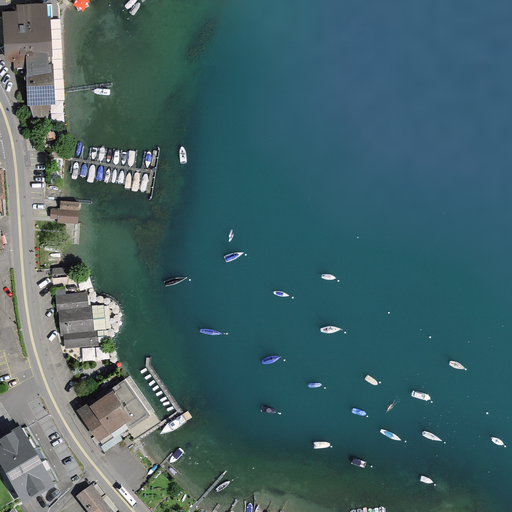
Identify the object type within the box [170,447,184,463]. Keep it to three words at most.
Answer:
boat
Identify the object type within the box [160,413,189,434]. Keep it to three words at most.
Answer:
boat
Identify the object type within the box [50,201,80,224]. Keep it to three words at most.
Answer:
building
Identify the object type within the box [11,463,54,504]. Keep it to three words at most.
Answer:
house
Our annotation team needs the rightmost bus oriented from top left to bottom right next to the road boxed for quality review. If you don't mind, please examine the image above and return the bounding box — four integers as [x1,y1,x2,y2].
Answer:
[118,486,138,506]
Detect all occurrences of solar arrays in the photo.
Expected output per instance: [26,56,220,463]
[26,86,54,104]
